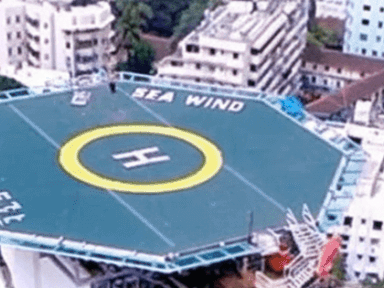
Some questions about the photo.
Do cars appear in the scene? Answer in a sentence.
No, the picture doesn't show any car.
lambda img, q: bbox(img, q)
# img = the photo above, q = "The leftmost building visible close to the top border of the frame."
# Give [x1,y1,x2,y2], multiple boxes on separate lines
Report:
[0,0,117,85]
